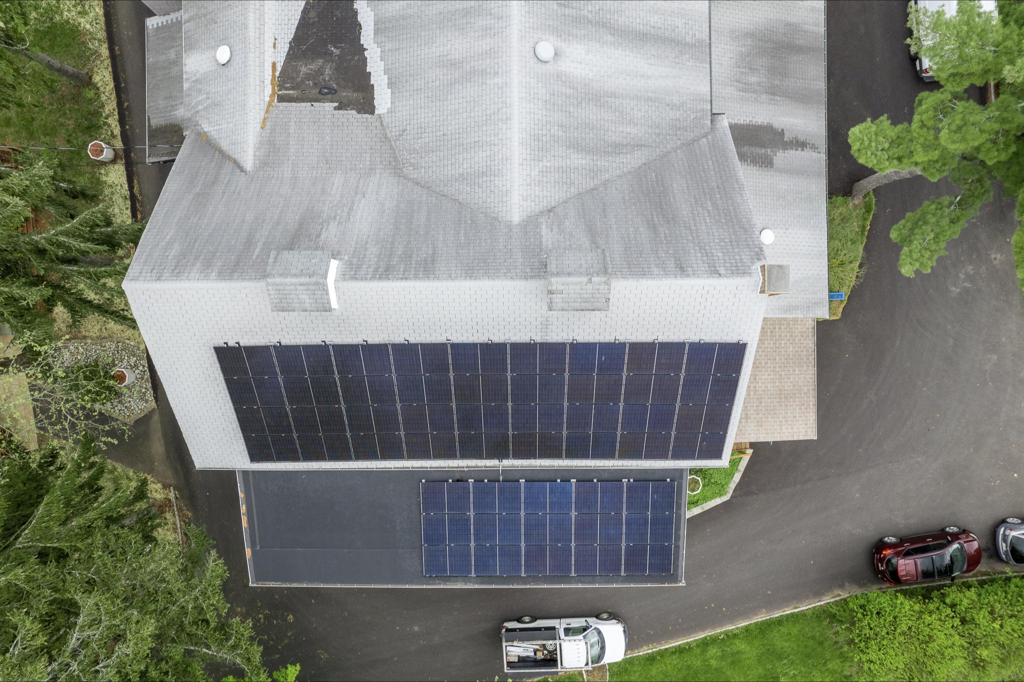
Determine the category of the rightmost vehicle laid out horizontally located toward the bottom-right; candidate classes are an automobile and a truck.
automobile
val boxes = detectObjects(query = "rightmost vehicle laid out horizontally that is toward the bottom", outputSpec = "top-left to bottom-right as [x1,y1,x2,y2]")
[870,526,983,587]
